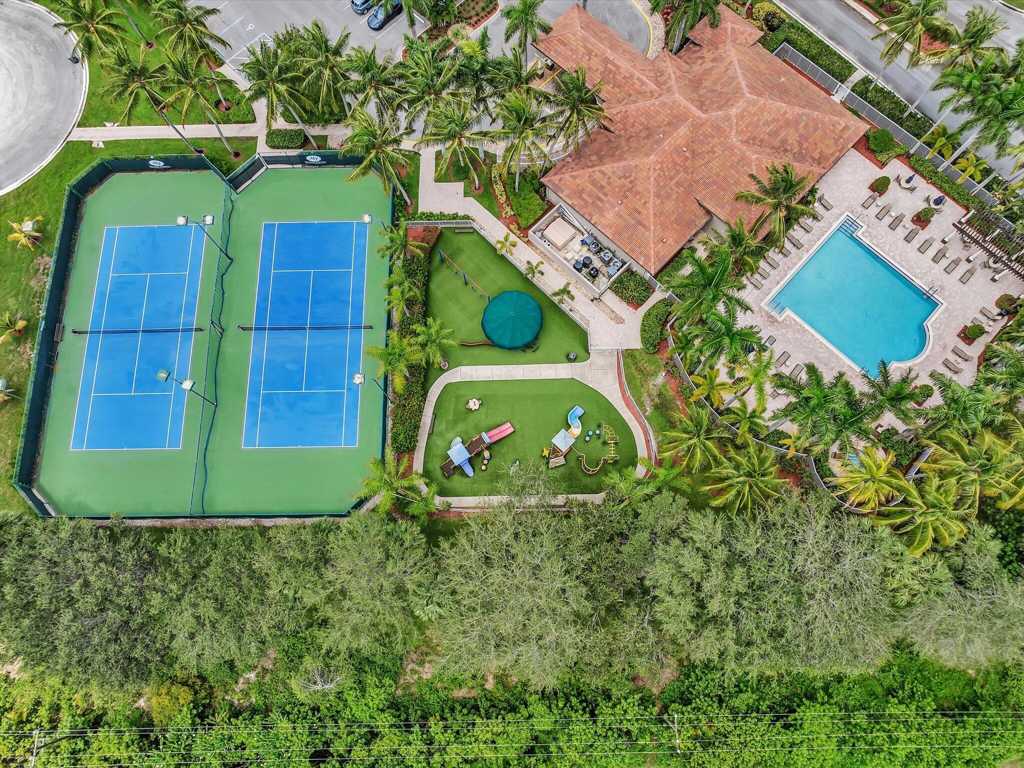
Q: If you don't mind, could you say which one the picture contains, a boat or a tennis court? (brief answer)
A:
tennis court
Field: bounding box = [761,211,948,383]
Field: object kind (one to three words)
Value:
swimming pool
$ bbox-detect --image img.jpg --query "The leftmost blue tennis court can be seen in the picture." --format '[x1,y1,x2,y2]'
[69,224,207,451]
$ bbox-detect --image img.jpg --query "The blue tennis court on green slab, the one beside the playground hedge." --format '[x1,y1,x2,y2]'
[240,220,372,449]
